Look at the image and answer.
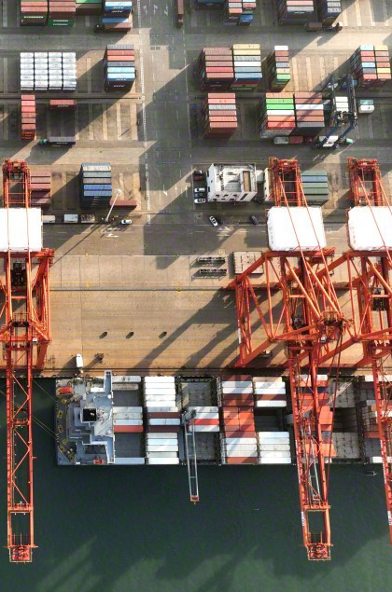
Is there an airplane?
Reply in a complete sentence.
No, there appears to be no airplane in this shot.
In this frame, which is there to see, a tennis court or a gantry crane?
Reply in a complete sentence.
This aerial view contains a gantry crane.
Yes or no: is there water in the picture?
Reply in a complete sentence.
Yes, there is water in the image.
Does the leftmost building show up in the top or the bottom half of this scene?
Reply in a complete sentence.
The leftmost building is in the top half of the image.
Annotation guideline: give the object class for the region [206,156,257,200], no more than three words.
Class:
building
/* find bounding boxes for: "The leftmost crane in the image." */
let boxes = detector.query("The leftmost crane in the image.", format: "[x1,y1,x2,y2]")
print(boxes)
[0,158,54,566]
